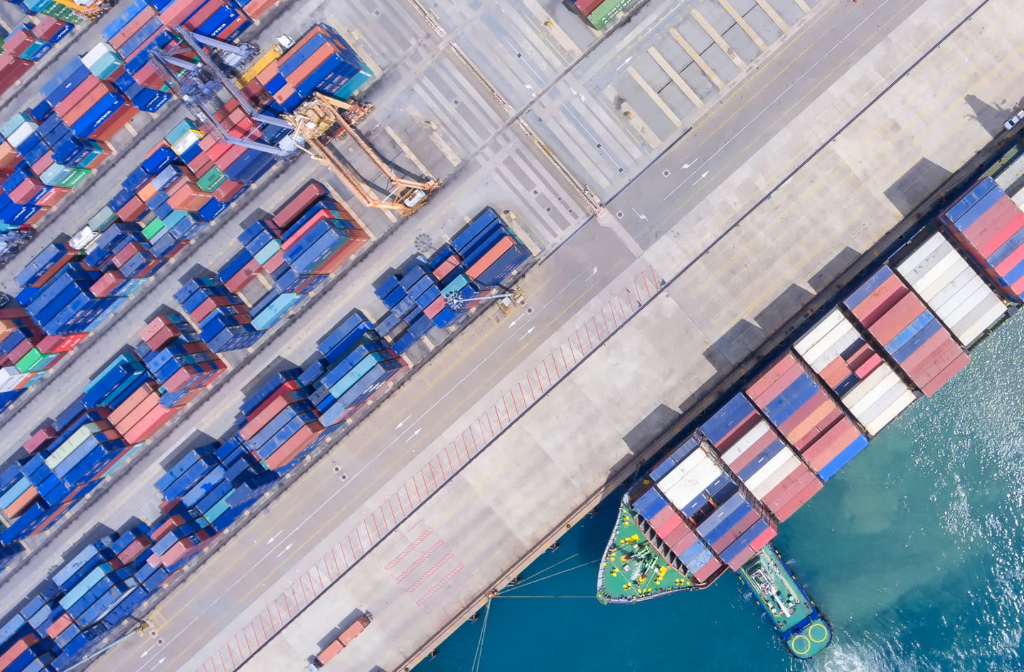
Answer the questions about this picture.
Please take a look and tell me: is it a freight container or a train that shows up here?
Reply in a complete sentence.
Of the two, only a freight container appears.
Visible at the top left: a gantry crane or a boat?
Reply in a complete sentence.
Visible at the top left is a gantry crane.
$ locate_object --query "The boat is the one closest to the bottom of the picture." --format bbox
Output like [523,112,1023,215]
[733,540,836,660]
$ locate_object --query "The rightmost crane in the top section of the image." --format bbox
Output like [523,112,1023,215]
[284,88,449,218]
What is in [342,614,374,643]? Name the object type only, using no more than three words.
shipping container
